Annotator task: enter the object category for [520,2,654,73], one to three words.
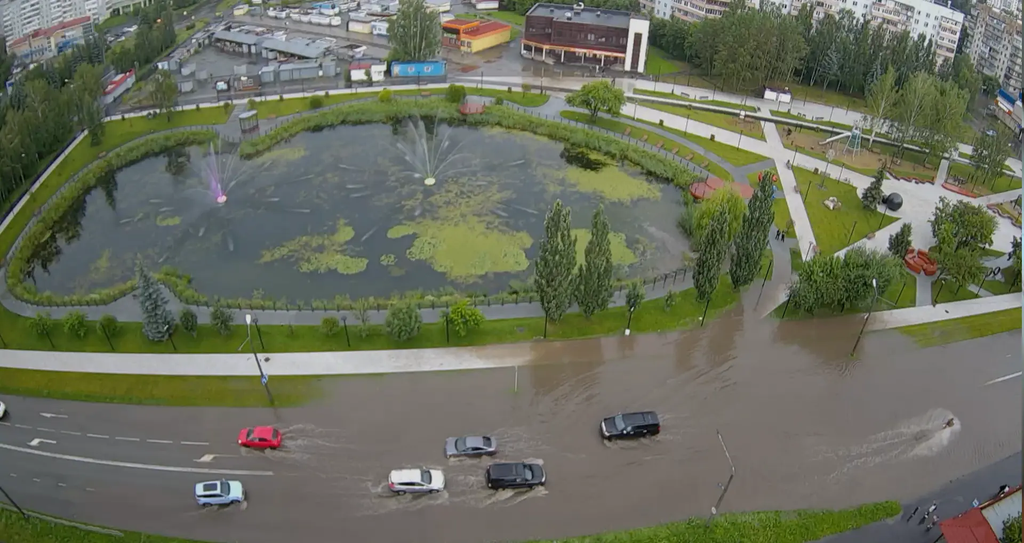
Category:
building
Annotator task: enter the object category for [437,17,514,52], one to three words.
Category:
building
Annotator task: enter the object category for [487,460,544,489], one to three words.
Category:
car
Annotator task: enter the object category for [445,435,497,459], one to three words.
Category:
car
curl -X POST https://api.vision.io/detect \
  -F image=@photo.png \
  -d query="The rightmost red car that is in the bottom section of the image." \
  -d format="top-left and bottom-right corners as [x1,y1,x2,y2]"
[234,427,284,451]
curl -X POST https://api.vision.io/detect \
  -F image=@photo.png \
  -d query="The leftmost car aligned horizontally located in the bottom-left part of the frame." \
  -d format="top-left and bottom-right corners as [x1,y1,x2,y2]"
[187,478,249,509]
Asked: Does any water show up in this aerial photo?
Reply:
Yes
